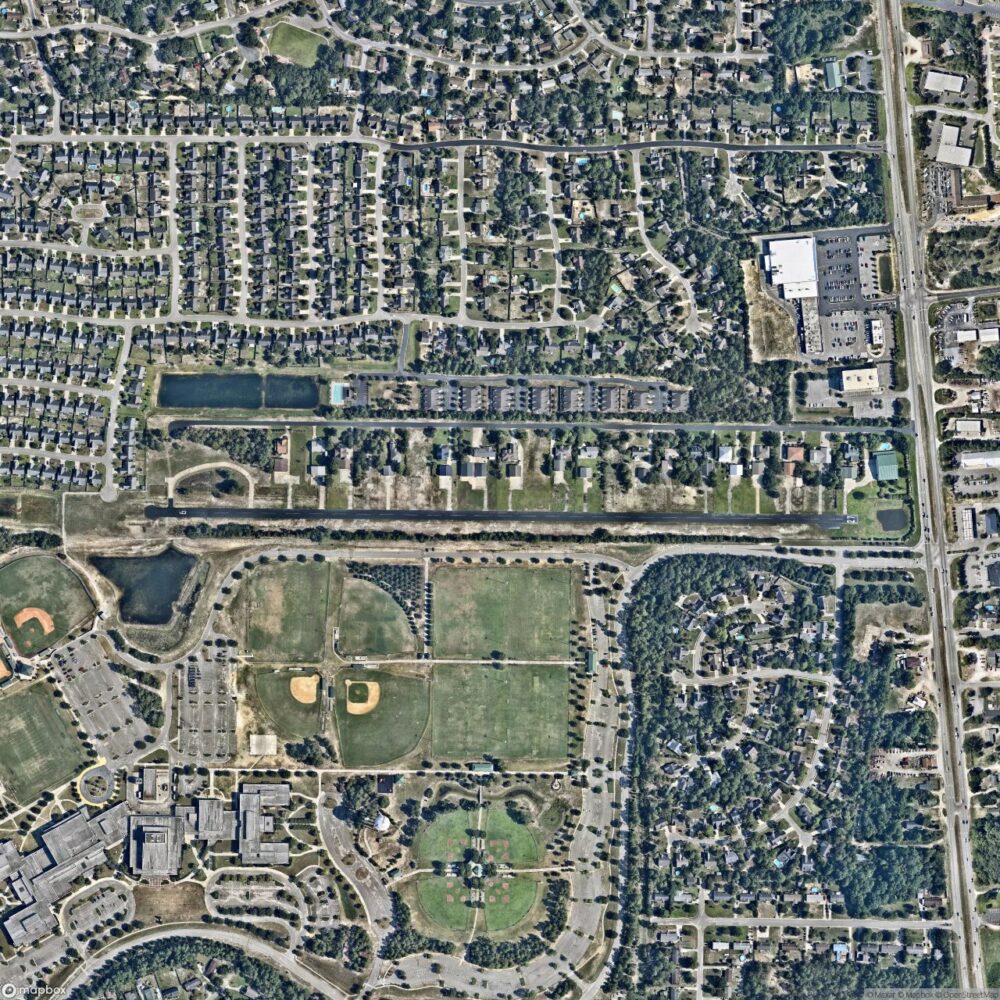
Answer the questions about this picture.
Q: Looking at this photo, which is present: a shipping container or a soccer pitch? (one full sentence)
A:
I can see a soccer pitch in this picture.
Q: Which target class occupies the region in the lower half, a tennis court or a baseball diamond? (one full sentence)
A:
It is a baseball diamond that can be seen in the lower half.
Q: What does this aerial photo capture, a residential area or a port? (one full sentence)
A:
The picture captures a residential area.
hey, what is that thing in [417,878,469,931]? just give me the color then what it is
green baseball field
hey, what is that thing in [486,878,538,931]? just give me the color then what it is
green baseball field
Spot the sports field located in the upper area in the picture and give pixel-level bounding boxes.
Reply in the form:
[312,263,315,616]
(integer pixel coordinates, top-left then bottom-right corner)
[270,22,325,67]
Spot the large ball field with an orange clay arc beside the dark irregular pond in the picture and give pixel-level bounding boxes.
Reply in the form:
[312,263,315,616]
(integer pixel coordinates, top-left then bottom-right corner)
[0,554,98,658]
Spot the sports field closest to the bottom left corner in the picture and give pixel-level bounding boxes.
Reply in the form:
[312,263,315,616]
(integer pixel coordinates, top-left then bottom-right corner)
[0,683,107,805]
